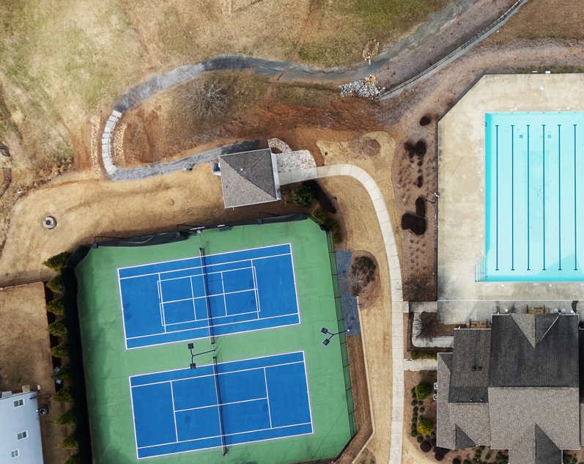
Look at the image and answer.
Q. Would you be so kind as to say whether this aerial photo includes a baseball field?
No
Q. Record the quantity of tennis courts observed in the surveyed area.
2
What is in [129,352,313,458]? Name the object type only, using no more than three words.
tennis court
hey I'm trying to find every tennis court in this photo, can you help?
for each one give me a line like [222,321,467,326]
[118,243,300,349]
[129,352,313,458]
